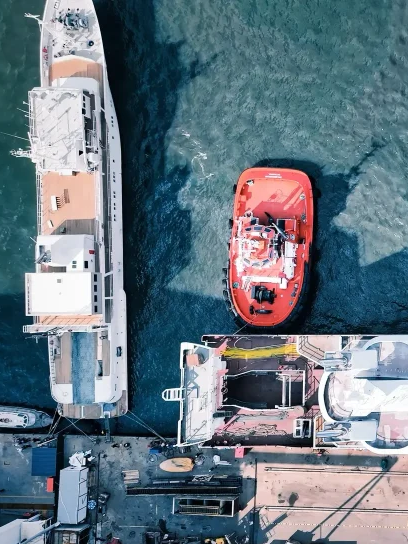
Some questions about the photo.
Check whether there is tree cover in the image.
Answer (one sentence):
No, the picture contains no tree cover.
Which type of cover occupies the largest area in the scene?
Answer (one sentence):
The bulk of the photo consists of water.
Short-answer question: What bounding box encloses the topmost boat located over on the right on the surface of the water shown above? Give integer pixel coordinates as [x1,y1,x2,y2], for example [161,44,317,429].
[224,166,318,332]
